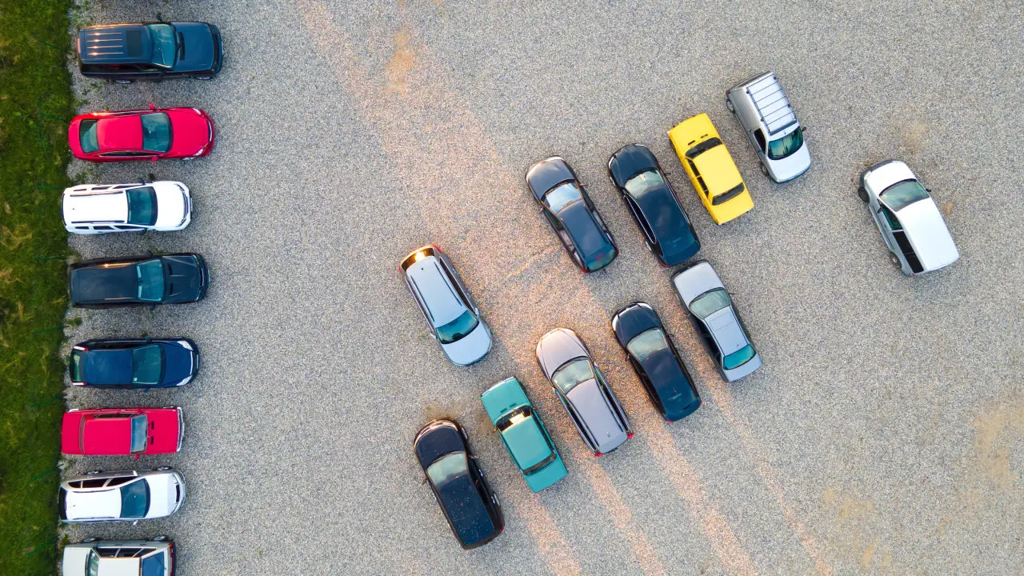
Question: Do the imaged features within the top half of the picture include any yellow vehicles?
Yes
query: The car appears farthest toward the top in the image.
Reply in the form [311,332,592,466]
[80,14,225,83]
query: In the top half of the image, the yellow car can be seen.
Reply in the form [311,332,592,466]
[665,110,755,226]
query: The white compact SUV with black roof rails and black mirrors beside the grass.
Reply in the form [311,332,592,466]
[63,177,194,235]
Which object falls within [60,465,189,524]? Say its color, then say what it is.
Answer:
white car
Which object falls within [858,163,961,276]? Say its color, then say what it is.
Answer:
white van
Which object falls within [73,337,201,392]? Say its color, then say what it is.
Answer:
blue car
